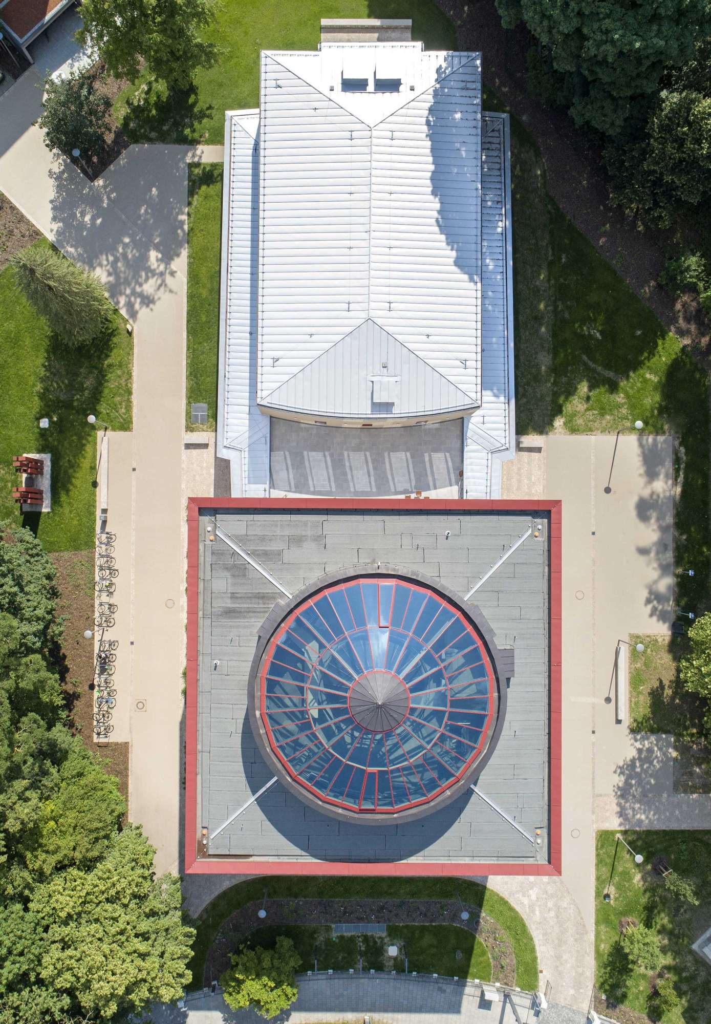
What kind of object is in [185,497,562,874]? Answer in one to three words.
building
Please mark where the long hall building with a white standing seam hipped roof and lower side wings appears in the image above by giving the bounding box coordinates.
[217,42,514,500]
